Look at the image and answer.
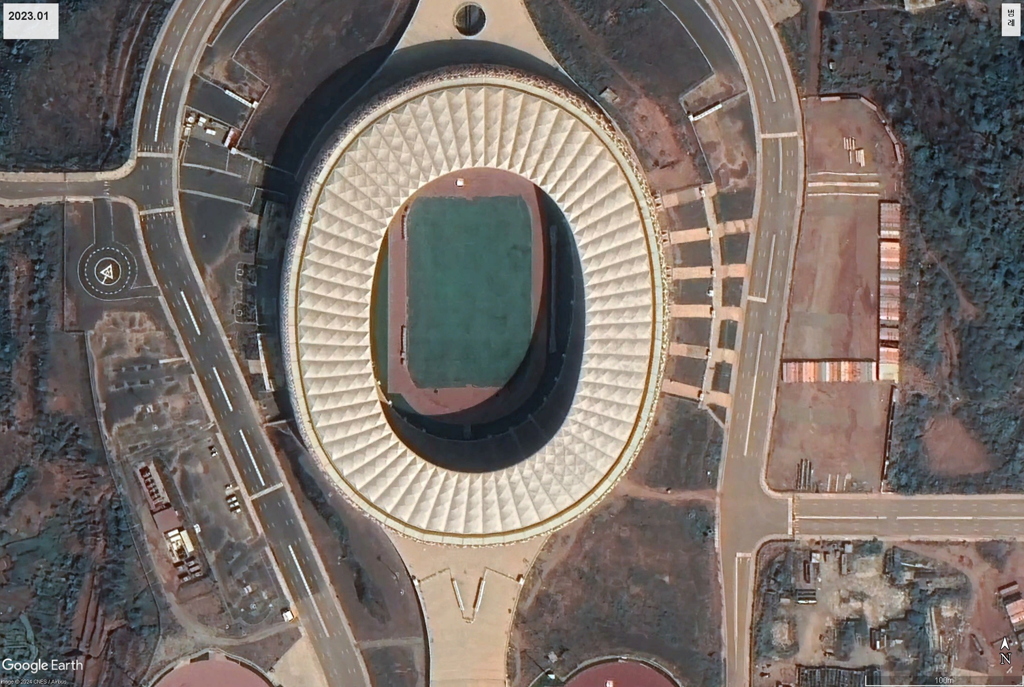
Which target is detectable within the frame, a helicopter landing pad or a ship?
helicopter landing pad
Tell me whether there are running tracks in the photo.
Yes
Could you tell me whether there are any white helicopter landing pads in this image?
No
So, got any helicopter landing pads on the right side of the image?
No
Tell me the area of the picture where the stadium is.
center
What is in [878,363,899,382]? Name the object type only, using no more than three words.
shed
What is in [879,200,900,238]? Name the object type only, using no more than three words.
shed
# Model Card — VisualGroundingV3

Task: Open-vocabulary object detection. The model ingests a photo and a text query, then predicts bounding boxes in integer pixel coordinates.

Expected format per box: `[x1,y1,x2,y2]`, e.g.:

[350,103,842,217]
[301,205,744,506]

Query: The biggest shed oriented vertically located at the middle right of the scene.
[879,241,900,325]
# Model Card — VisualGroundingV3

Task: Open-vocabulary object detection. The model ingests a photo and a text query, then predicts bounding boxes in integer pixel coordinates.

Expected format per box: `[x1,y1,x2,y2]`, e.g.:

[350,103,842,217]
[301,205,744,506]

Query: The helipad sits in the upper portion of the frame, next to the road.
[78,206,157,301]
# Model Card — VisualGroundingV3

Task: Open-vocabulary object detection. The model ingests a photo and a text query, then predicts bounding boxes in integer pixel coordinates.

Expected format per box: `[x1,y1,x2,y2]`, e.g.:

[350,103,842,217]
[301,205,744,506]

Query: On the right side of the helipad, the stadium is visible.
[277,61,668,550]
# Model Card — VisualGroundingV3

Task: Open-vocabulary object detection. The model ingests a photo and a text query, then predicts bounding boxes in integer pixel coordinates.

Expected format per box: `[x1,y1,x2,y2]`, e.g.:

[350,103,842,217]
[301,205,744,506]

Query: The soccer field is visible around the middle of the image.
[406,195,532,388]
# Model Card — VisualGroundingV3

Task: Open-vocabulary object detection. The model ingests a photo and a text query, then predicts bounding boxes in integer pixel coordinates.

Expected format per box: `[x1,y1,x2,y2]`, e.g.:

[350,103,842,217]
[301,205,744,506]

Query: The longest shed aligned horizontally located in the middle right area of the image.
[782,359,876,381]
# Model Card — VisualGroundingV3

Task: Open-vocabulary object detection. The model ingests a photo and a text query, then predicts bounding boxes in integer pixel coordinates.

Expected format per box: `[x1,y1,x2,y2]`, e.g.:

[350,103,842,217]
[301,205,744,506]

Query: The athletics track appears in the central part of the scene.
[389,168,546,423]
